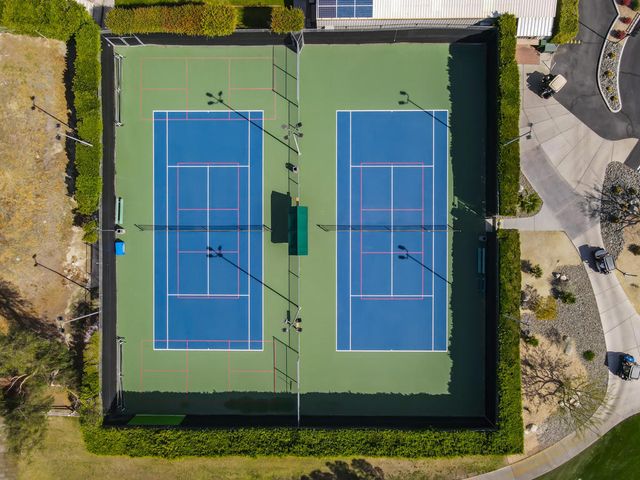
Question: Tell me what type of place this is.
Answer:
sports ground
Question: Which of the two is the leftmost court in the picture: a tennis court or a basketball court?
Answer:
tennis court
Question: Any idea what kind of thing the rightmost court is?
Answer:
tennis court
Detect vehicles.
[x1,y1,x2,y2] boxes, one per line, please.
[538,74,565,98]
[617,356,640,382]
[591,249,618,274]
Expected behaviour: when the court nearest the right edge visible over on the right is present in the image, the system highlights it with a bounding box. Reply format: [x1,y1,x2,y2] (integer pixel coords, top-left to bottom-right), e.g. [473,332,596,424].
[298,45,486,416]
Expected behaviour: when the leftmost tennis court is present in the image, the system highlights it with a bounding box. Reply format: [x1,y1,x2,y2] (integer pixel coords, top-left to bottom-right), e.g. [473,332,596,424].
[115,45,298,416]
